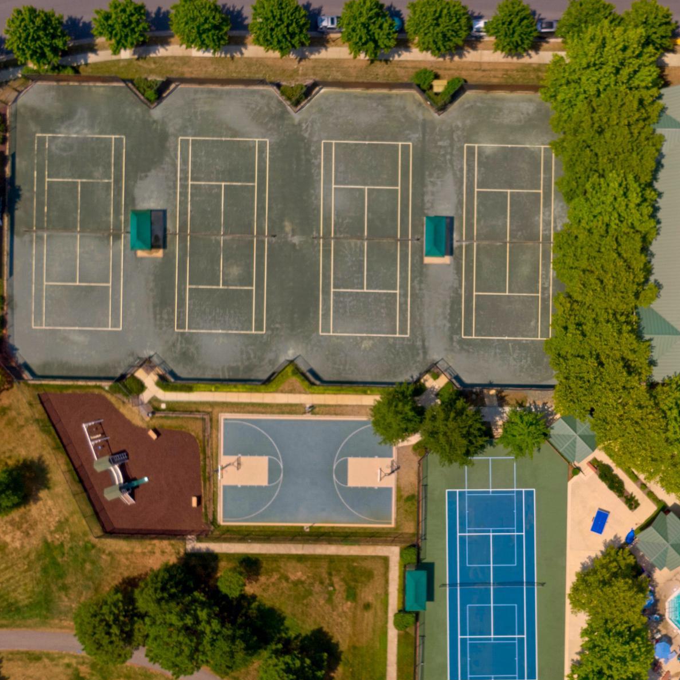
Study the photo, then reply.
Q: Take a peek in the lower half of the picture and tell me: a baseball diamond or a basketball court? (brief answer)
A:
basketball court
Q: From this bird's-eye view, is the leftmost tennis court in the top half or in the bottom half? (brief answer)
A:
top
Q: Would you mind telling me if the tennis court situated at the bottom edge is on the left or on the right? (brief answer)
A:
right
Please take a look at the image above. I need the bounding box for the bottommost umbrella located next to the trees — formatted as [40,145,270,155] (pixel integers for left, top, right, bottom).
[654,641,671,658]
